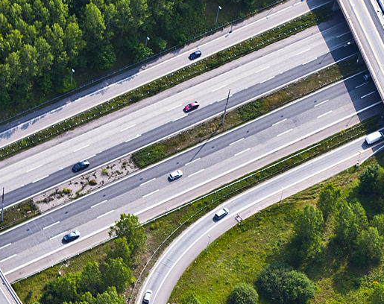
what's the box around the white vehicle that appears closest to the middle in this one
[167,170,185,182]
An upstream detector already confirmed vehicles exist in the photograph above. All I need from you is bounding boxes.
[187,49,205,61]
[62,232,81,243]
[143,291,152,304]
[213,209,230,222]
[72,160,90,173]
[365,131,384,146]
[167,170,185,182]
[184,102,200,113]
